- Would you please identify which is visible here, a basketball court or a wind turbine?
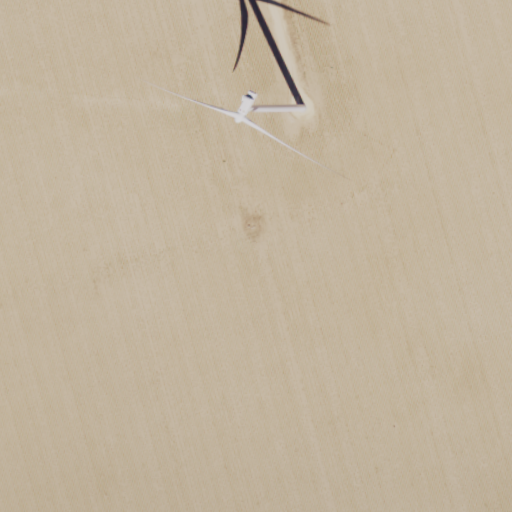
wind turbine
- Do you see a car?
No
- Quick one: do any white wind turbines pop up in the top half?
Yes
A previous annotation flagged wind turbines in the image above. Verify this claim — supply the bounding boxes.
[142,81,343,178]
